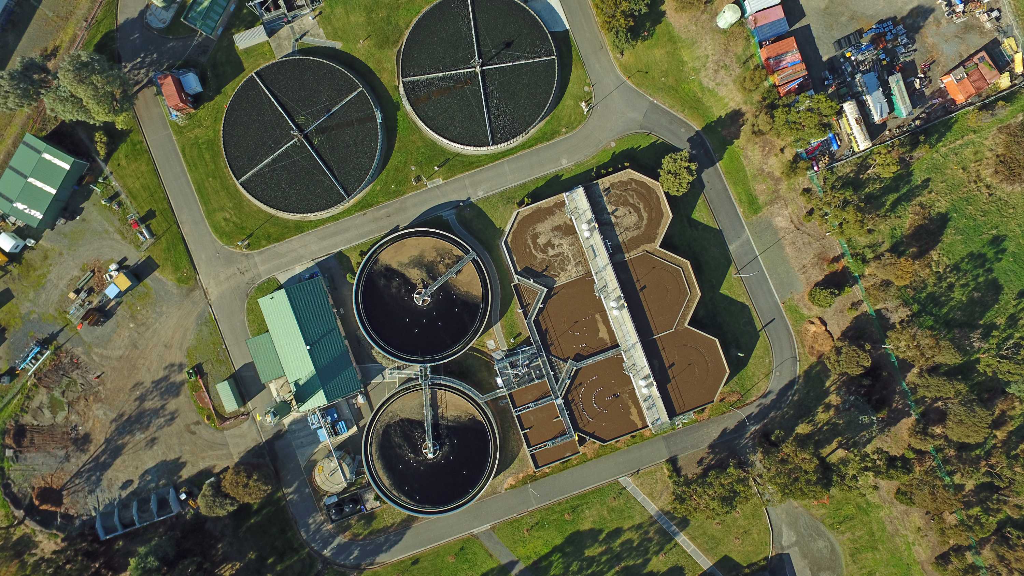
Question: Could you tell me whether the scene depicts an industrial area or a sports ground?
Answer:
industrial area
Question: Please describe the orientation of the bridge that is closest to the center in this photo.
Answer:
at an angle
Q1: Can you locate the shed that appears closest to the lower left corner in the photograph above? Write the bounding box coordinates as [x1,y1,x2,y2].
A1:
[216,378,251,413]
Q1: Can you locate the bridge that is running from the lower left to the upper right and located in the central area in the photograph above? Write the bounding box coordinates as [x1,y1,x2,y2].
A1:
[416,248,480,302]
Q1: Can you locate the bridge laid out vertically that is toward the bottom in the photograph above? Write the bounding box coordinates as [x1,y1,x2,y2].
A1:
[419,366,434,454]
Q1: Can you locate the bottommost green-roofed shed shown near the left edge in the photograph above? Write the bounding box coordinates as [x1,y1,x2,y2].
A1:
[0,133,105,230]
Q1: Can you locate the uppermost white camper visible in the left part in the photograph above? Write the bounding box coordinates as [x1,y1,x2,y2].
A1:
[0,232,28,253]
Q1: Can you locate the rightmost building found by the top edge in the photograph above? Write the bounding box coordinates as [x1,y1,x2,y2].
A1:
[233,24,271,49]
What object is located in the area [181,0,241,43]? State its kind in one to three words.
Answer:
building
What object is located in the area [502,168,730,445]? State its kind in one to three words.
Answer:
storage tank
